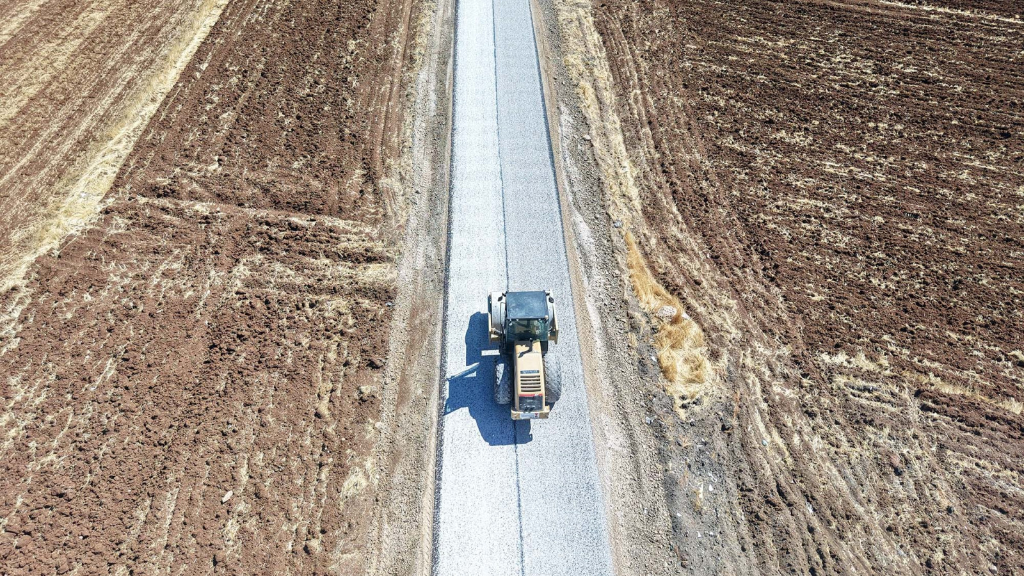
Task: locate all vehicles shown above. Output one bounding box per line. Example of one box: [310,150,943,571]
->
[490,287,562,421]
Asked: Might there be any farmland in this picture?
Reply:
Yes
